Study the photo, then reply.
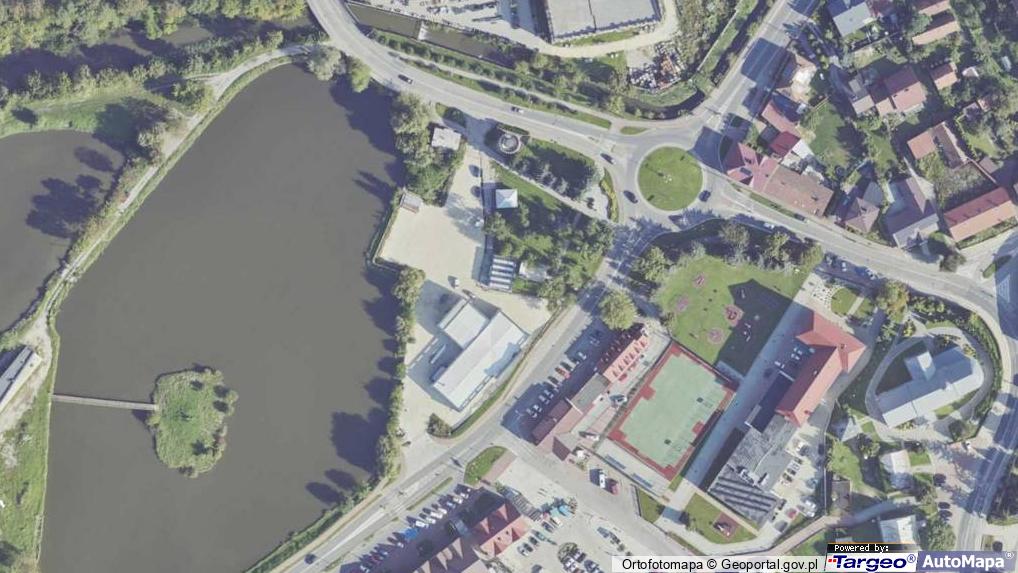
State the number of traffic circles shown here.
1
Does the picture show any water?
Yes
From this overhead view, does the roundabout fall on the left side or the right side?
right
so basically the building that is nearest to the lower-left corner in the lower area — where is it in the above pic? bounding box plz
[0,347,43,411]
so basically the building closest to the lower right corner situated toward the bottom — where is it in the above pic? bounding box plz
[880,515,920,556]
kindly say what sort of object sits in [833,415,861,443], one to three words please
house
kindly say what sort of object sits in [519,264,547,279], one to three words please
shed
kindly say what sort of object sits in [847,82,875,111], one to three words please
house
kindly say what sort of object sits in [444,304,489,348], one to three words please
building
